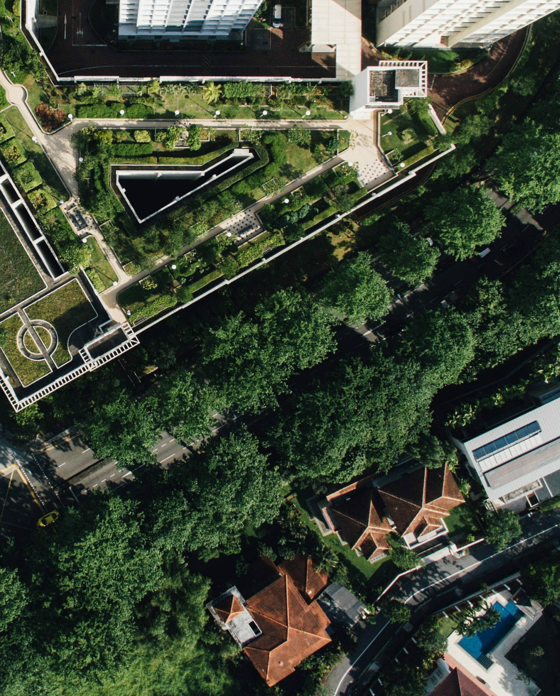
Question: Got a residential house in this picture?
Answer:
Yes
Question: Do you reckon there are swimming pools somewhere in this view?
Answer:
Yes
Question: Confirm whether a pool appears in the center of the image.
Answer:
No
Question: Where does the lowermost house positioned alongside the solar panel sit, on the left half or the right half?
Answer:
right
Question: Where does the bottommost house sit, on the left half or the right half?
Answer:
right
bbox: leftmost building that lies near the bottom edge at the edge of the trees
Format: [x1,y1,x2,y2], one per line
[204,549,332,689]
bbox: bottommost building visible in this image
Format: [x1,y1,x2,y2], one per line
[423,654,492,696]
